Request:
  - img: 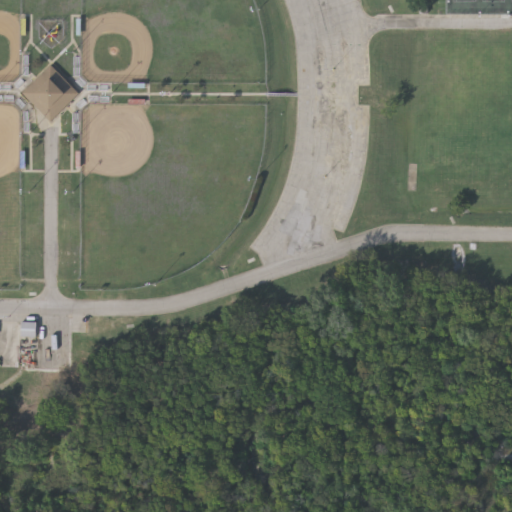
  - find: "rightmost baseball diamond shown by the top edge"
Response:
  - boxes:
[80,0,266,83]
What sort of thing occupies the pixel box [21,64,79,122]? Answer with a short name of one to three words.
building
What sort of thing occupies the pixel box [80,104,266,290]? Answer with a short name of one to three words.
baseball field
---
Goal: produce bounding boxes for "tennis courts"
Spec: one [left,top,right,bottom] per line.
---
[448,0,479,14]
[479,0,512,14]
